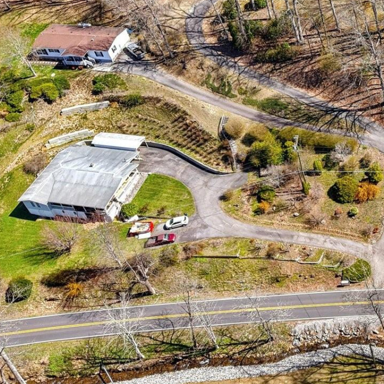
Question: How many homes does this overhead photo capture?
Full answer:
My tally gives 2 homes in this view.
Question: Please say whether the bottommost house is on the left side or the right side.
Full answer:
The bottommost house appears in the left half of the scene.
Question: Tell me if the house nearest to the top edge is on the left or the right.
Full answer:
The house nearest to the top edge is on the left side of the image.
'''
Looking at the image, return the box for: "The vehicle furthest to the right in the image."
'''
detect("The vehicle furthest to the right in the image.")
[164,214,188,229]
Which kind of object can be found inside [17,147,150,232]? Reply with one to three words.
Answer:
house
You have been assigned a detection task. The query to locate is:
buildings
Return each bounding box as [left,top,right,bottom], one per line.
[17,147,150,232]
[30,26,134,65]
